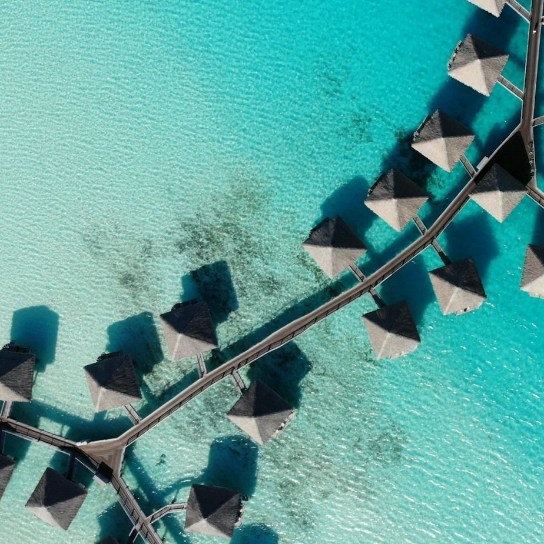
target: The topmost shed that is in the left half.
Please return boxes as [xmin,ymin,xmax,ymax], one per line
[160,299,220,360]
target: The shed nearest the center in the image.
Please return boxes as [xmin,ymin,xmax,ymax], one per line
[302,213,369,280]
